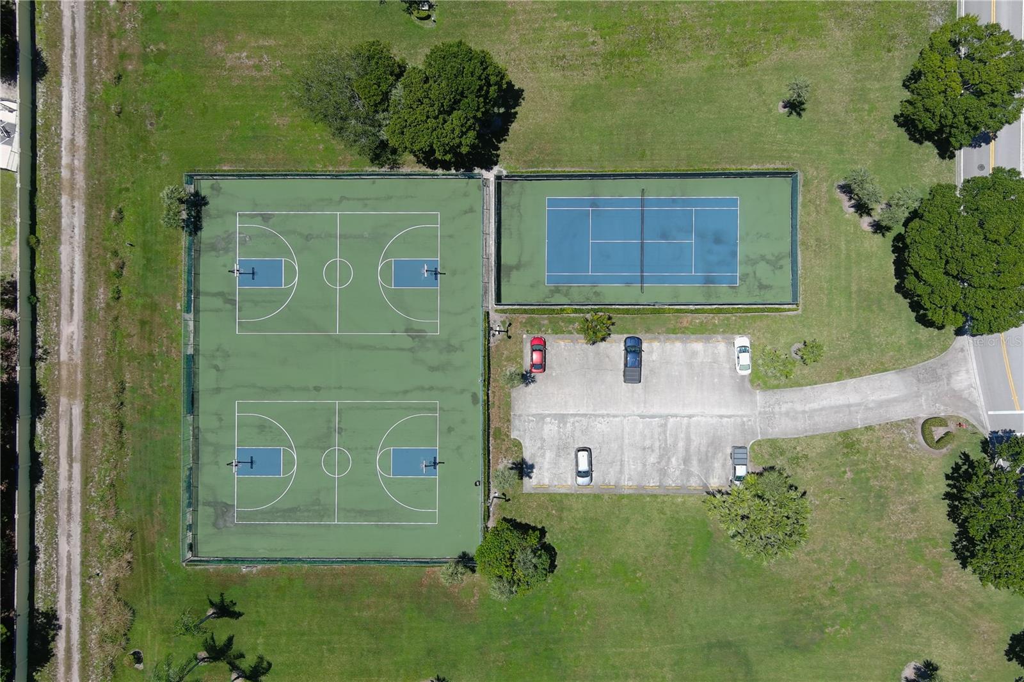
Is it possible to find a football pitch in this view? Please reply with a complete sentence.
No, there is no football pitch in the image.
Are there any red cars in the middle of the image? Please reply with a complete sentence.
Yes, a red car can be seen in the middle of the image.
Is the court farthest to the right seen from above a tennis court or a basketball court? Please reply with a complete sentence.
It turns out the court farthest to the right is a tennis court.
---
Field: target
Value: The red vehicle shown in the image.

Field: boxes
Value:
[529,336,547,374]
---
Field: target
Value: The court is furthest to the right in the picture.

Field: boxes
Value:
[496,179,792,302]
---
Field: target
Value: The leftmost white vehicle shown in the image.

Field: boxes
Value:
[575,448,593,486]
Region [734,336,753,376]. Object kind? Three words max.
car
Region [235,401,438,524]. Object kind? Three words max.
basketball court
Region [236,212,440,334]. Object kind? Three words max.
basketball court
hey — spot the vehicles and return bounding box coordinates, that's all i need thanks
[731,447,749,490]
[734,336,753,376]
[575,448,593,486]
[624,337,644,384]
[529,336,547,374]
